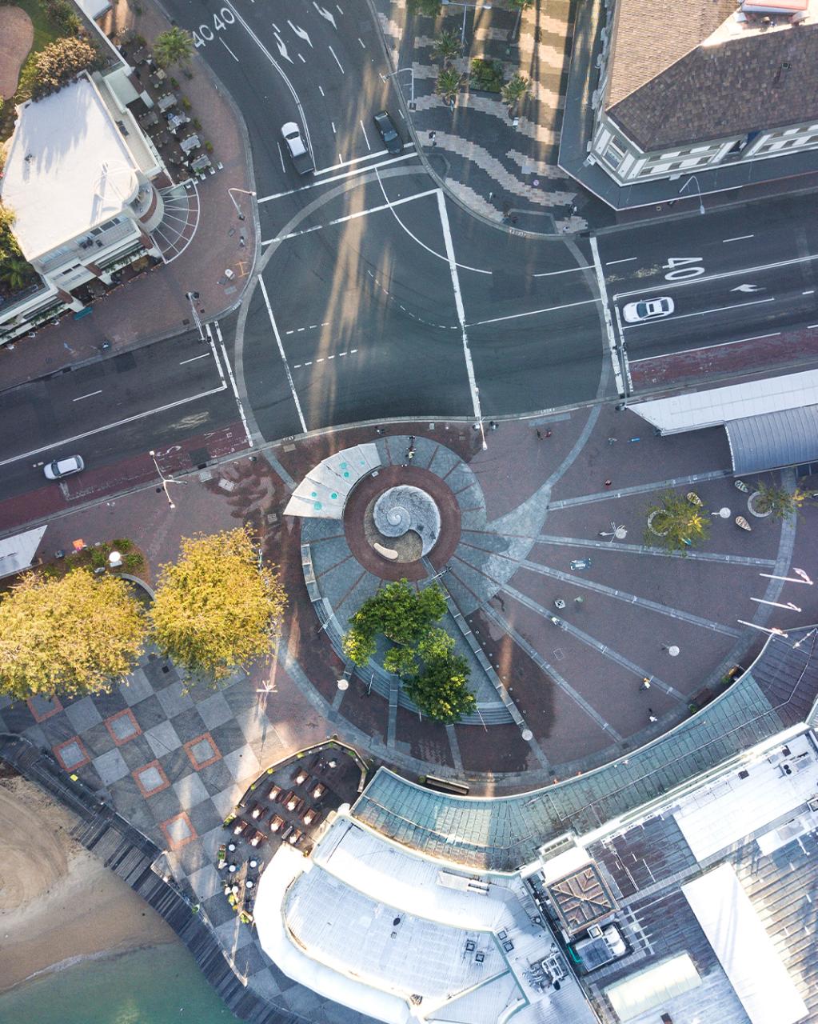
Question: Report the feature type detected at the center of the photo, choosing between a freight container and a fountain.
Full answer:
Visible at the center of the photo is a fountain.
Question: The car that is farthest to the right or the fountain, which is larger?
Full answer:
The fountain is larger than the car.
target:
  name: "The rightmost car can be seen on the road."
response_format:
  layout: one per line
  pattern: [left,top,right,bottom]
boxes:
[625,292,680,321]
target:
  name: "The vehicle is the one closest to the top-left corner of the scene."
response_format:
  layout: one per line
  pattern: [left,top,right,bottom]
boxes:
[282,117,316,174]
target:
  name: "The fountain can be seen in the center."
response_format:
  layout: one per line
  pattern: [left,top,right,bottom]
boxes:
[372,482,441,556]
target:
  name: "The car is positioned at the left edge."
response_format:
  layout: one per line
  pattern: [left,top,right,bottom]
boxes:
[40,453,84,480]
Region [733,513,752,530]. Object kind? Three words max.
boat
